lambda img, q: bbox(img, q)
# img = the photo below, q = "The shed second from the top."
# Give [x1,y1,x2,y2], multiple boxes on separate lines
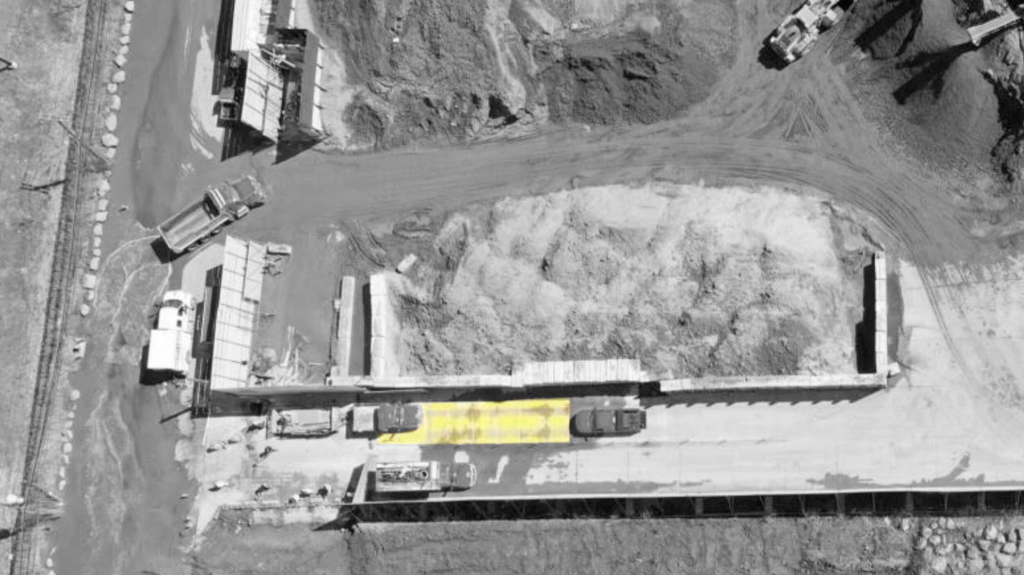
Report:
[240,51,286,151]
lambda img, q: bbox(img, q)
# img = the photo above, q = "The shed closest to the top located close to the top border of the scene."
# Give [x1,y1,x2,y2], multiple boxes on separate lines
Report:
[231,0,282,74]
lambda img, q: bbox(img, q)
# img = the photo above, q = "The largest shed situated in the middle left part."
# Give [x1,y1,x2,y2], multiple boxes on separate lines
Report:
[210,236,269,392]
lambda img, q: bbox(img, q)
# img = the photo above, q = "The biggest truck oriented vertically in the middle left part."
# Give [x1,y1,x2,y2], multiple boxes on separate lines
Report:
[149,291,197,375]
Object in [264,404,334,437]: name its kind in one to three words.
trailer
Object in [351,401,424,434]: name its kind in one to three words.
truck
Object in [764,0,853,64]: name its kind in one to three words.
work vehicle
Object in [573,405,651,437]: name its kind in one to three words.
truck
